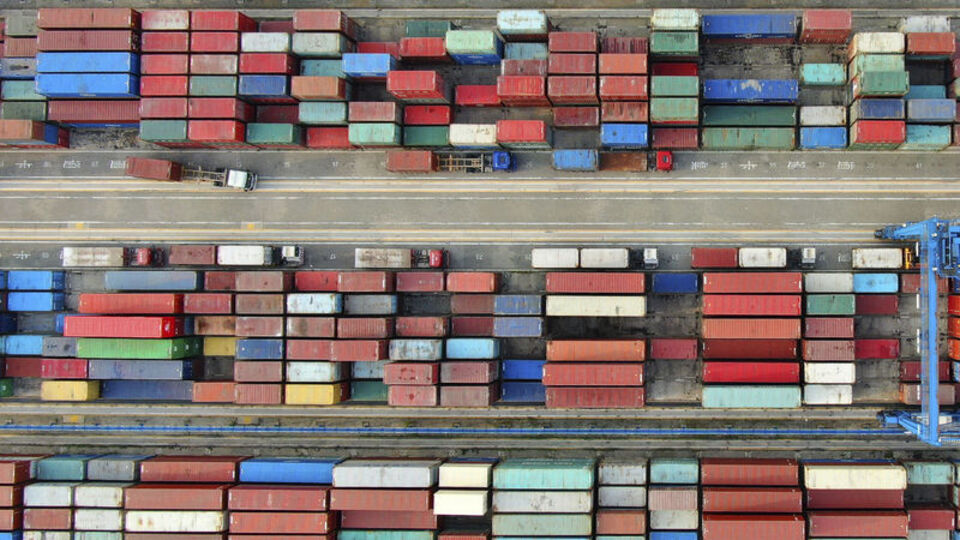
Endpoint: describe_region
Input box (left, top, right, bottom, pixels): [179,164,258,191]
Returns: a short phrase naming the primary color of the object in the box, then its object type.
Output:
white truck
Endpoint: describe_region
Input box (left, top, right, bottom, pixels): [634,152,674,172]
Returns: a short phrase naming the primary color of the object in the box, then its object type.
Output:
red vehicle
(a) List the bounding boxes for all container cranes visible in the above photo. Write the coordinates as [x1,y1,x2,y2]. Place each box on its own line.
[872,214,960,450]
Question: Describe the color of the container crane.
blue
